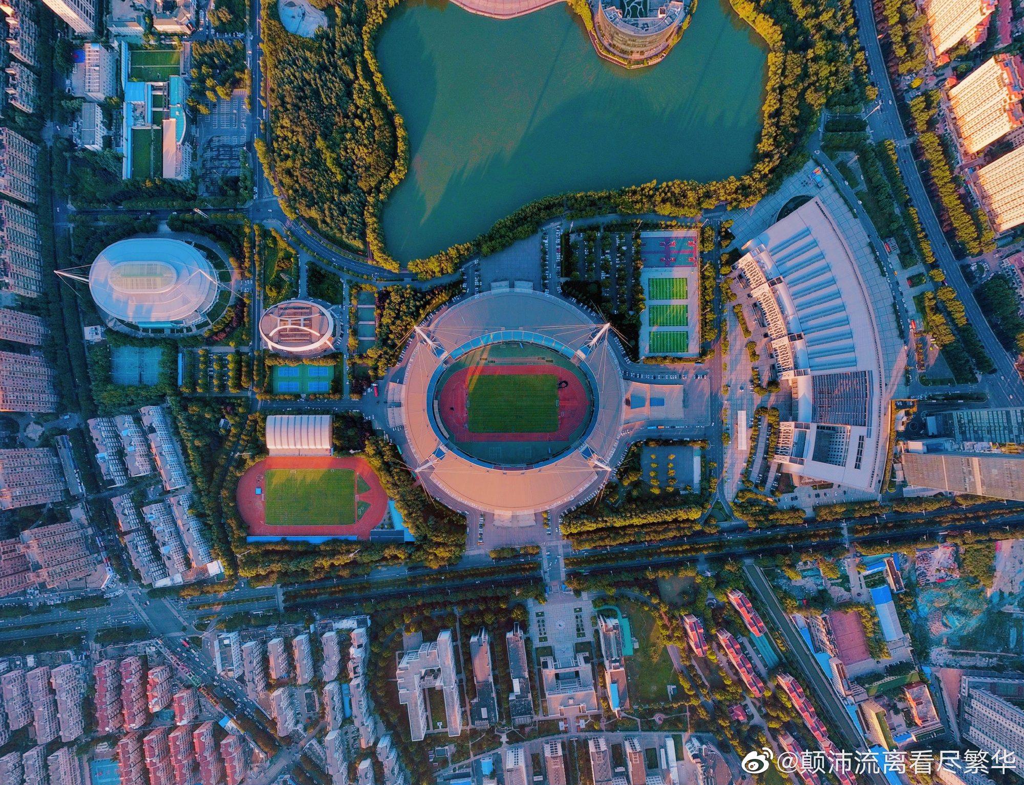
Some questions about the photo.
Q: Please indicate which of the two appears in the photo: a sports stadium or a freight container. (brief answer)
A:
sports stadium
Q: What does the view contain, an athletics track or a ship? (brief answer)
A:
athletics track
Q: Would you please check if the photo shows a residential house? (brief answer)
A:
Yes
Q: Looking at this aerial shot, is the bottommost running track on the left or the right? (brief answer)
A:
left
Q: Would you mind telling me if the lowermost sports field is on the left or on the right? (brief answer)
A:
left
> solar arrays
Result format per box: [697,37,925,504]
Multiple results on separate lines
[811,371,865,426]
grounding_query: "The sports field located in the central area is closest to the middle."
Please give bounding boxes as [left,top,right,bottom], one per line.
[468,374,558,433]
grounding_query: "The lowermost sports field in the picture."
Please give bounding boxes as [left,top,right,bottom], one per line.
[265,469,355,525]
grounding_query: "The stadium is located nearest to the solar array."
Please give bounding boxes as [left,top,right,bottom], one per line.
[387,280,633,527]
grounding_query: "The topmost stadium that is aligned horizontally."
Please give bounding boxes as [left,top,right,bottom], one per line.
[55,238,243,329]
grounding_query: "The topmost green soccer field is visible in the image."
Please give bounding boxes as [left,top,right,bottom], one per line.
[131,48,181,81]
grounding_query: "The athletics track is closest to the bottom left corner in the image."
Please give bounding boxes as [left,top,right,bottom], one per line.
[236,457,387,541]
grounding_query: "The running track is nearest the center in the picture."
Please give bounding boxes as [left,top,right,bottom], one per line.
[435,342,592,466]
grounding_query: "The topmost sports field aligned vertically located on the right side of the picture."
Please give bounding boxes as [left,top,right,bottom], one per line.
[640,230,700,357]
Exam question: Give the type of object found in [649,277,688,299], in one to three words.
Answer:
soccer field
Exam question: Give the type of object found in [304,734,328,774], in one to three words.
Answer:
house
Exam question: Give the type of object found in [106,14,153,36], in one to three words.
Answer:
building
